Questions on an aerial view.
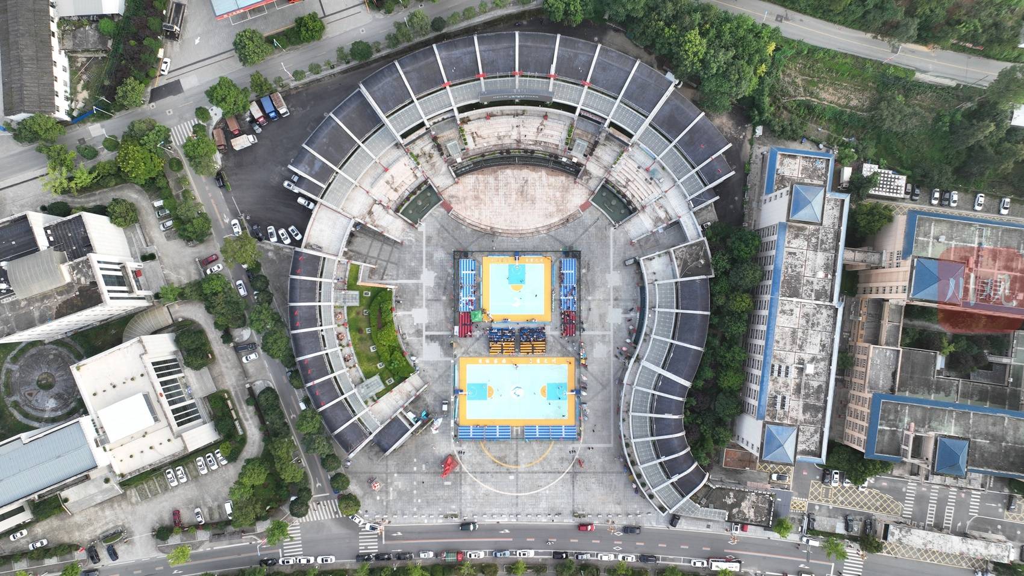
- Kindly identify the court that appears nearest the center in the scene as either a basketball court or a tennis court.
basketball court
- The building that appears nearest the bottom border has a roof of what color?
white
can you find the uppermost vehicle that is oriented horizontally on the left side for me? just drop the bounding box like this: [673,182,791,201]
[229,135,259,150]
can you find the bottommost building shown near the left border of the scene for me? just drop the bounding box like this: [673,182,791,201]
[0,415,126,533]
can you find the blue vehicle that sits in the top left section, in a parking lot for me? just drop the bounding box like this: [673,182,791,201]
[258,93,279,122]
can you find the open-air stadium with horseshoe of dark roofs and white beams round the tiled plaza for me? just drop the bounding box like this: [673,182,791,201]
[287,32,746,521]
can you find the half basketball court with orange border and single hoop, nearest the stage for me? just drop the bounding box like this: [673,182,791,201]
[482,256,551,323]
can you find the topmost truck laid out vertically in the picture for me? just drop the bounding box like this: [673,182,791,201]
[163,3,184,43]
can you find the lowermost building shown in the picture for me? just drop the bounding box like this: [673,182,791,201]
[876,518,1015,565]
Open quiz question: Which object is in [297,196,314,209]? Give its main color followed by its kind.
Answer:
white vehicle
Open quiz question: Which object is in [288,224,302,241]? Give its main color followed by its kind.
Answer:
white car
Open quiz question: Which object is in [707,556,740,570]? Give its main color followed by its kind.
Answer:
white vehicle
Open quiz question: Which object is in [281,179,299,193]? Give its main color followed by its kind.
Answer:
white car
